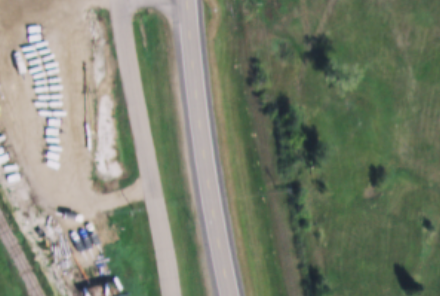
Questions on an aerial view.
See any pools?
No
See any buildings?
No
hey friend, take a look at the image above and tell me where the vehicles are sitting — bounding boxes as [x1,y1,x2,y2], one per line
[78,227,93,248]
[86,221,101,242]
[70,230,85,250]
[56,208,80,220]
[36,226,46,236]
